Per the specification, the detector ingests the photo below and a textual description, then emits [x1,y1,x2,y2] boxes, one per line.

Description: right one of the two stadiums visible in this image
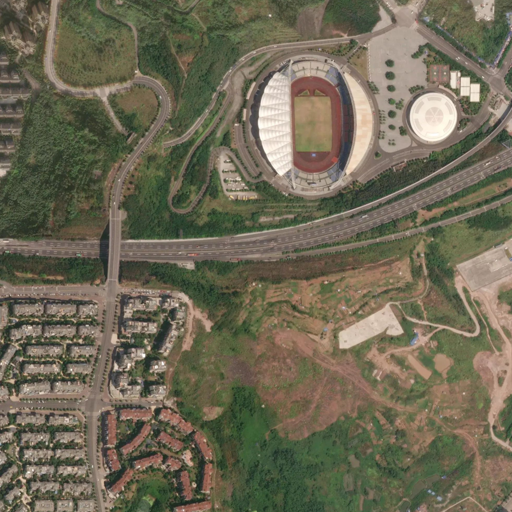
[400,83,466,150]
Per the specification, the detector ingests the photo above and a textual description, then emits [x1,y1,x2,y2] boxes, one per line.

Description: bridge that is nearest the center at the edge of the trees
[109,208,121,276]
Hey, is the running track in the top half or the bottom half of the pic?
top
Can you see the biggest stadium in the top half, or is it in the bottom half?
top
